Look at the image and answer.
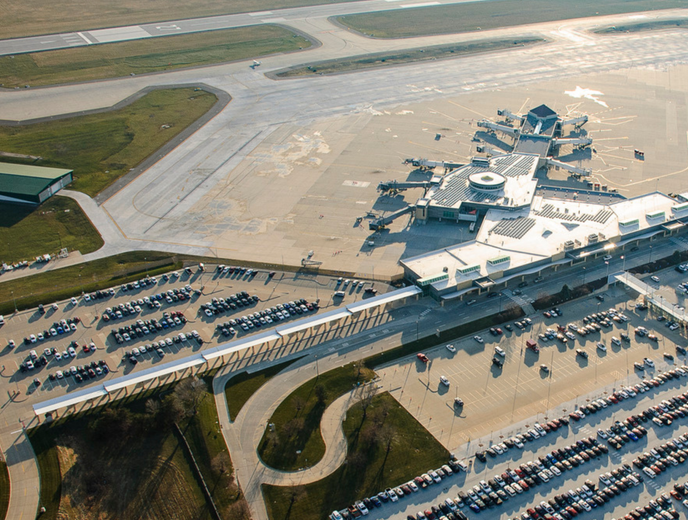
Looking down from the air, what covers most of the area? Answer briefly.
paved ground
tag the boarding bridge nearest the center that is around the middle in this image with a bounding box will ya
[369,202,415,230]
